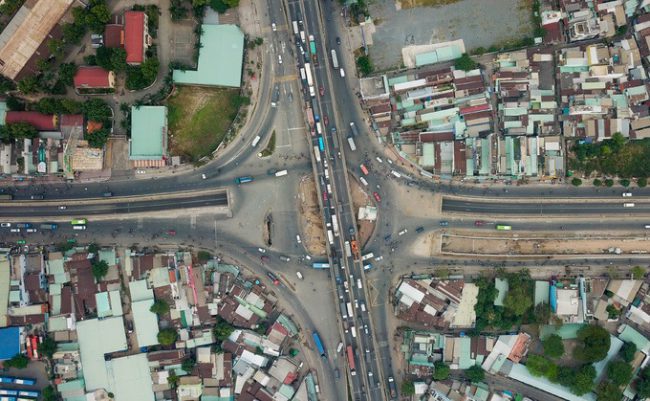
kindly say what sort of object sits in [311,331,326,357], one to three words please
vehicle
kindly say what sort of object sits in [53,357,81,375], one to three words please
house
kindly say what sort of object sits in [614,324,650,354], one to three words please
house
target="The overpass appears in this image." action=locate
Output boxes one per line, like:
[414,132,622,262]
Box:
[286,0,387,401]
